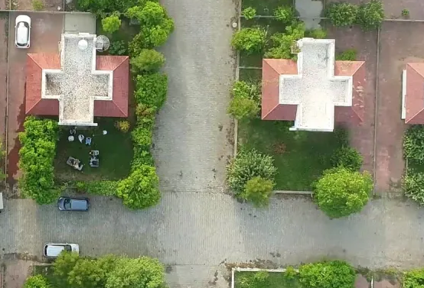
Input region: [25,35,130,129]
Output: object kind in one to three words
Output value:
house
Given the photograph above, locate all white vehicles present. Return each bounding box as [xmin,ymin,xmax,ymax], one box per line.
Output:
[14,16,31,48]
[43,241,79,257]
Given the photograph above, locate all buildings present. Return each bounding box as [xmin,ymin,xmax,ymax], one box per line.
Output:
[260,39,365,134]
[25,35,130,129]
[400,62,424,124]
